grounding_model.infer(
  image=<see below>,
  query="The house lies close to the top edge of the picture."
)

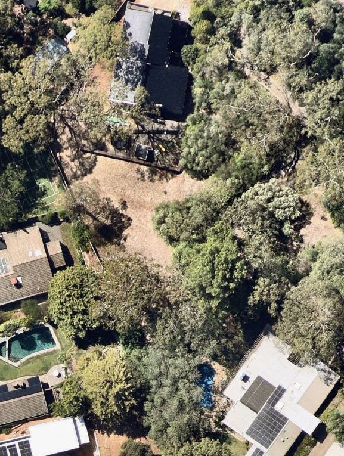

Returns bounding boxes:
[109,2,189,115]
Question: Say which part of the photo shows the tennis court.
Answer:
left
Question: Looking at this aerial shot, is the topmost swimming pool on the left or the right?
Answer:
left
